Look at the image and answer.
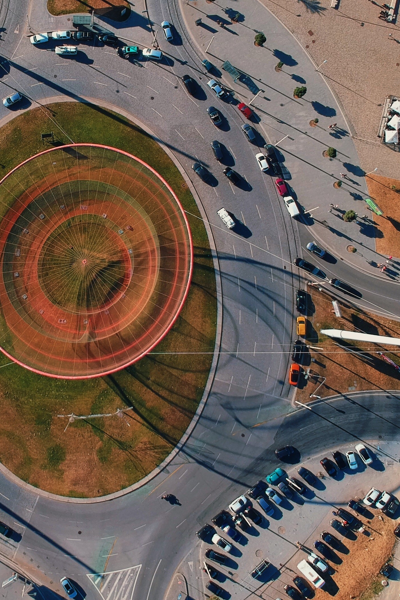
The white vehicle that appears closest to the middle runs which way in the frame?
diagonally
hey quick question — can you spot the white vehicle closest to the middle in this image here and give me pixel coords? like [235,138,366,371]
[215,207,236,230]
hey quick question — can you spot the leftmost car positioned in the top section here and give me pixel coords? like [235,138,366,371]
[4,92,21,108]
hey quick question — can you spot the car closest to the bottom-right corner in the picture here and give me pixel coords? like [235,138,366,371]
[379,564,395,578]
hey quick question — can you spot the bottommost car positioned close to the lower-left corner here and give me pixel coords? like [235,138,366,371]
[60,579,74,596]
